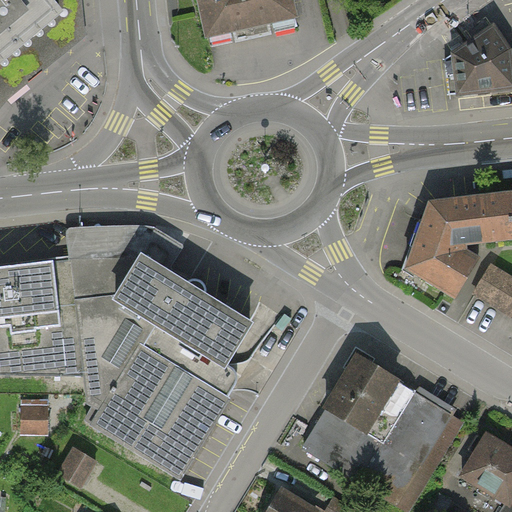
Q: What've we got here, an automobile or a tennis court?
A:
automobile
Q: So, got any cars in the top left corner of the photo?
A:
Yes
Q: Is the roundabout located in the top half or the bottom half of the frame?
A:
top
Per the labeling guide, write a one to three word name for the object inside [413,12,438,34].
truck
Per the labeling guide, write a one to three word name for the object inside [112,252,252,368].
building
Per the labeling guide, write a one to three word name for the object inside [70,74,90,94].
car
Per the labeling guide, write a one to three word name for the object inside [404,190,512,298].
house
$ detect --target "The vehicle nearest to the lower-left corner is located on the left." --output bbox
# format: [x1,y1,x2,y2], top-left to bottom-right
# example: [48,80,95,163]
[170,481,204,501]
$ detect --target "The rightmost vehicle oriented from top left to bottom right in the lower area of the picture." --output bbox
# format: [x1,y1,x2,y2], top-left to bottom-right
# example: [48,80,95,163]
[307,462,328,480]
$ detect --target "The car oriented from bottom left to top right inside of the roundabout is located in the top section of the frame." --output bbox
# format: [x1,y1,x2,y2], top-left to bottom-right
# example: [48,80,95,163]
[210,122,232,139]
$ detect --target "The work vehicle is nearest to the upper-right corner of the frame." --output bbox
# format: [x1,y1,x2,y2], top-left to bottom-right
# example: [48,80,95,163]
[438,1,460,30]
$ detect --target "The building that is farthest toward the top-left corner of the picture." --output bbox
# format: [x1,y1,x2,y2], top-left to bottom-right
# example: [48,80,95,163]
[0,0,70,68]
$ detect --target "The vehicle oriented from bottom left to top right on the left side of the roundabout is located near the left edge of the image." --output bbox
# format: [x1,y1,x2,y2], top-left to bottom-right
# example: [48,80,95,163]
[2,126,19,148]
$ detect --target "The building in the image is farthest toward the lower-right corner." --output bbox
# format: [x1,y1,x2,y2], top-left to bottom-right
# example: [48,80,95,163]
[459,432,512,510]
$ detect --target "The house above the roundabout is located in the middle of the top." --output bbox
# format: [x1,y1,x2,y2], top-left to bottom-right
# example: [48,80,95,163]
[204,0,297,48]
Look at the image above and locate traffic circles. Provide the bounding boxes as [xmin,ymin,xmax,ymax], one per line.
[185,94,345,246]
